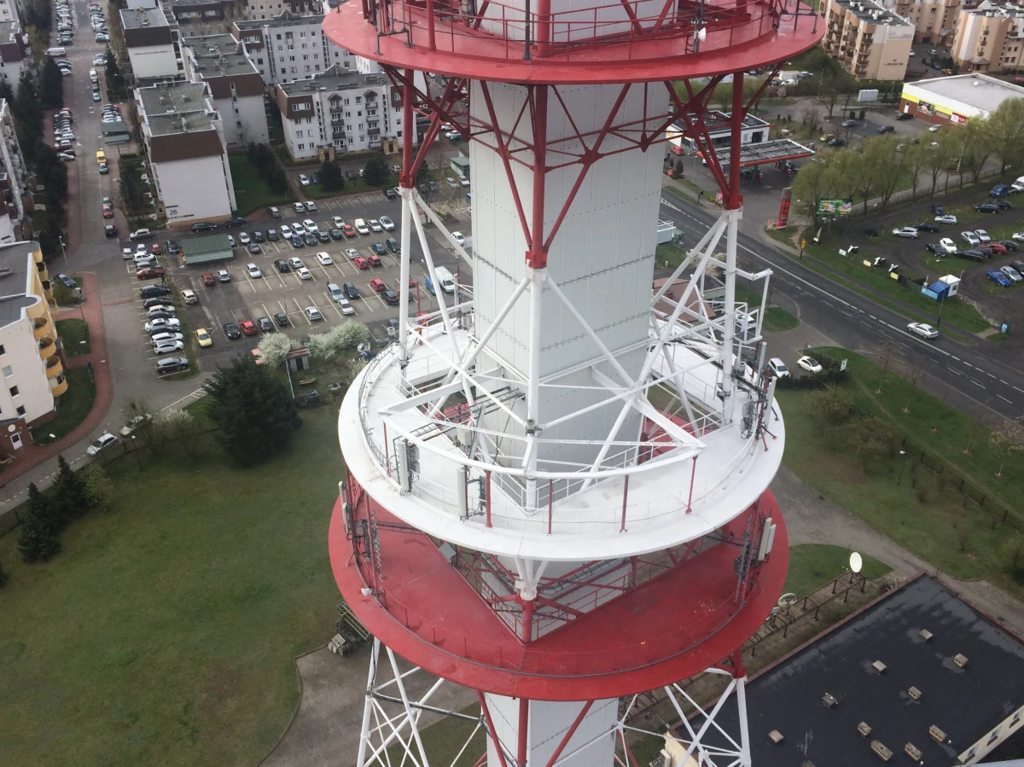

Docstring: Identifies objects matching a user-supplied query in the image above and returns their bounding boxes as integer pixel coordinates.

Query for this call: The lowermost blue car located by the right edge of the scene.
[982,271,1015,287]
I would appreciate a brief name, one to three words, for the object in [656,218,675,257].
building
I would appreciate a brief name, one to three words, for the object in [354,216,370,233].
vehicle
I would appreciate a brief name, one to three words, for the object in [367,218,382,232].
car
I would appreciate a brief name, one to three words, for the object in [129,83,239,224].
building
